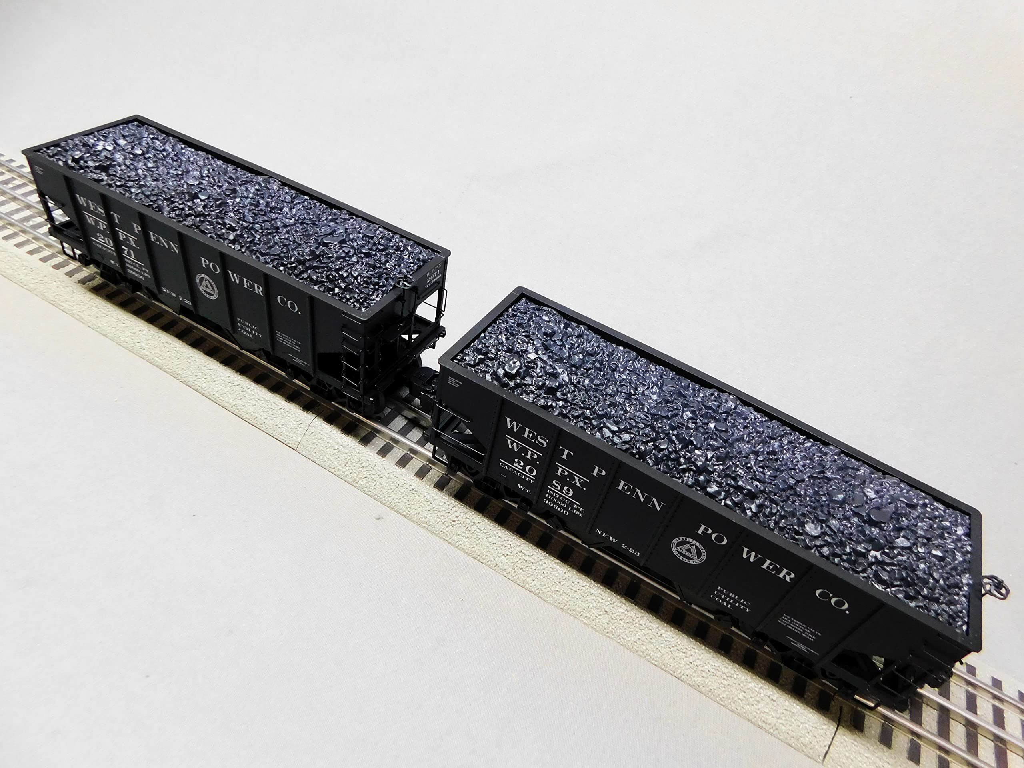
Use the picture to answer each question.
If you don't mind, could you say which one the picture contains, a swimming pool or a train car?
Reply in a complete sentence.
This aerial view contains a train car.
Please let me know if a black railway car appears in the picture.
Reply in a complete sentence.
Yes, this view includes a black railway car.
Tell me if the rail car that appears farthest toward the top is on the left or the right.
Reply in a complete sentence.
The rail car that appears farthest toward the top appears in the left half of the scene.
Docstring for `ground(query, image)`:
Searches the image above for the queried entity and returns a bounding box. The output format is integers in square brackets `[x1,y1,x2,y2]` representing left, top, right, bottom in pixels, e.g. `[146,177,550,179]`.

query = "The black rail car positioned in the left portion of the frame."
[22,114,449,421]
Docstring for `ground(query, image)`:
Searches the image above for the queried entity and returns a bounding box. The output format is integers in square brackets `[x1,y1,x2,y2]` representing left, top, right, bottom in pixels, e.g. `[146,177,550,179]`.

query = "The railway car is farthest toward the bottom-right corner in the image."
[419,289,1011,716]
